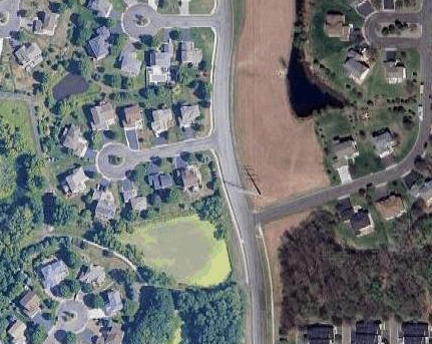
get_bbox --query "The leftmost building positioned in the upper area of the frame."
[18,42,44,69]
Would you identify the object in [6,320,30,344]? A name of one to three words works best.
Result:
house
